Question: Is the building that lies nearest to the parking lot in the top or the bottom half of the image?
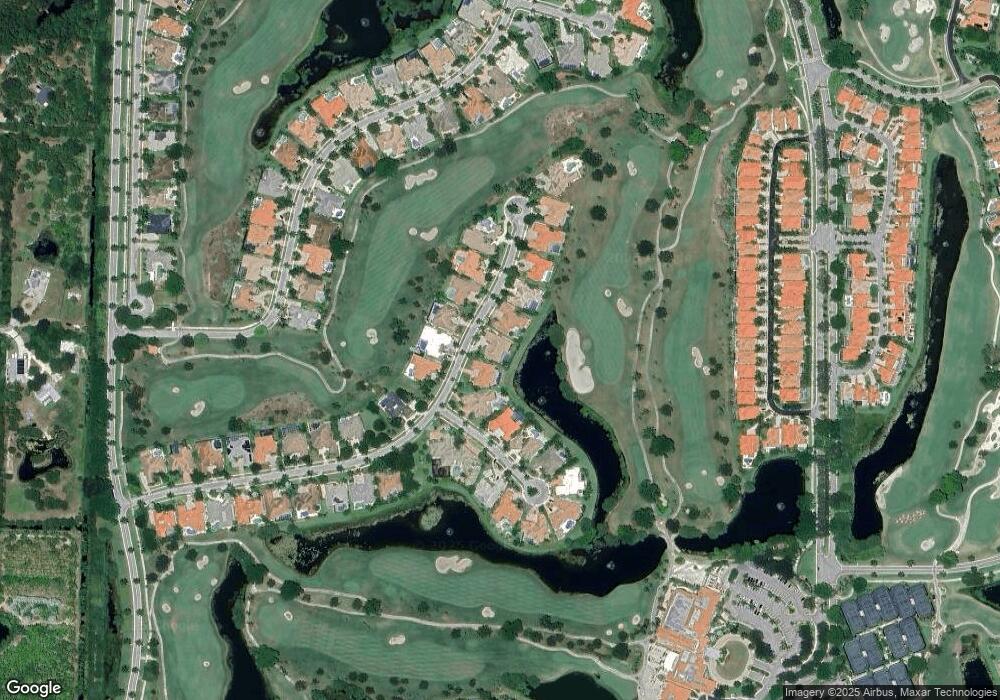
bottom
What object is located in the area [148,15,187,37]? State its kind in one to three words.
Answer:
house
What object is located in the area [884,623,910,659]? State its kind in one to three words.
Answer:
tennis court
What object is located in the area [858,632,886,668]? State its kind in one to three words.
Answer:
tennis court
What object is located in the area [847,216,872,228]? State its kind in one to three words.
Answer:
house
